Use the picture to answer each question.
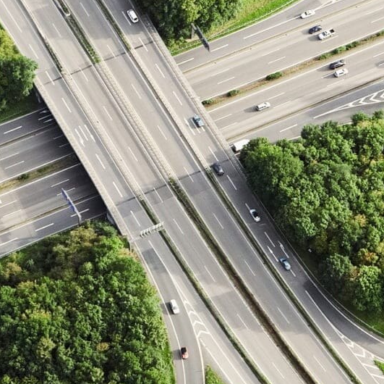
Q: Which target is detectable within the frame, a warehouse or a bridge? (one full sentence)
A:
It is a bridge that can be seen here.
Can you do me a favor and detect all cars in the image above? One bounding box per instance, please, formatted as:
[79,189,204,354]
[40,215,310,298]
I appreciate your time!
[169,299,179,315]
[334,69,346,76]
[330,60,344,68]
[279,258,290,270]
[319,29,334,39]
[309,25,323,34]
[180,346,188,360]
[212,162,223,175]
[255,102,270,111]
[250,209,260,221]
[127,10,136,22]
[300,10,315,18]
